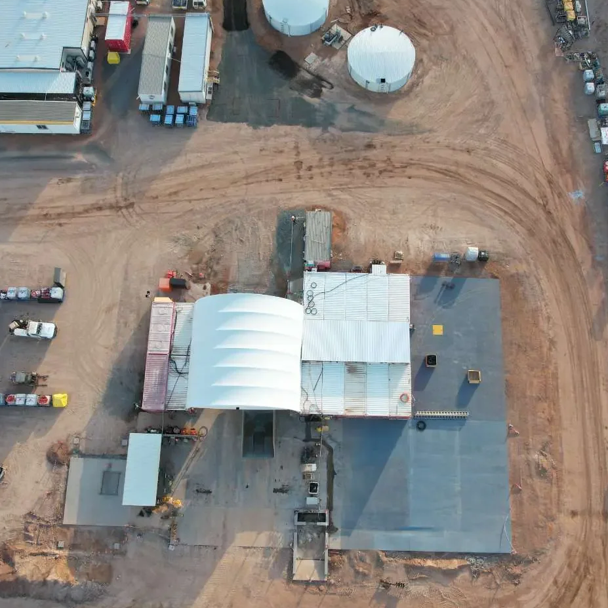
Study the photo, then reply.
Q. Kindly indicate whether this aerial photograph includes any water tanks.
Yes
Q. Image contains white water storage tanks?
Yes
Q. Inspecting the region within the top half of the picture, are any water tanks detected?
Yes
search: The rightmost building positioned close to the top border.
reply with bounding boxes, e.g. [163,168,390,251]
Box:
[178,12,223,108]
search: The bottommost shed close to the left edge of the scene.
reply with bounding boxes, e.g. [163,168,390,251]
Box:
[0,101,83,133]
